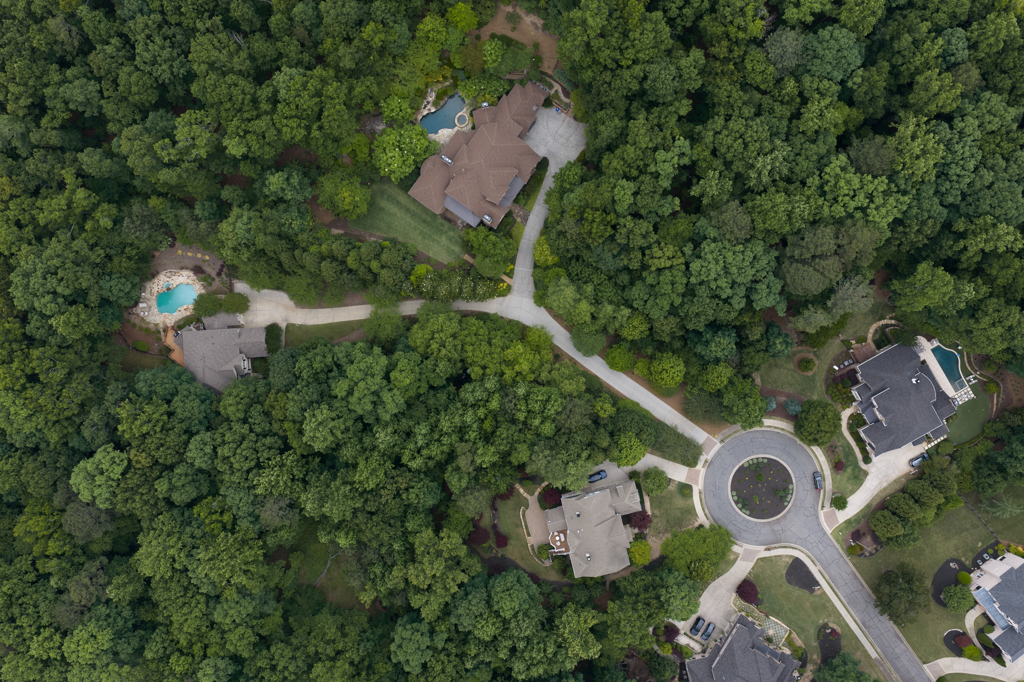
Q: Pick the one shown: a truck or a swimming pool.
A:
swimming pool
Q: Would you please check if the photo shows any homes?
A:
Yes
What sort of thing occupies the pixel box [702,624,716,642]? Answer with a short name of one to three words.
car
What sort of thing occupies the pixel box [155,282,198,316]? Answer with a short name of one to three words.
swimming pool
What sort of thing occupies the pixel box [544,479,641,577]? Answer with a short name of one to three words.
house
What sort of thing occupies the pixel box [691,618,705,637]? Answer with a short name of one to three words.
car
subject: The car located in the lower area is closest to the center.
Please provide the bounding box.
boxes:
[589,471,607,484]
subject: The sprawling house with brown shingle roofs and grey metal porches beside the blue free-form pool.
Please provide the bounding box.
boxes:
[408,80,550,228]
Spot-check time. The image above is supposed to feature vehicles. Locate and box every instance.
[911,453,928,469]
[589,471,607,484]
[702,624,716,642]
[691,618,705,637]
[814,473,825,491]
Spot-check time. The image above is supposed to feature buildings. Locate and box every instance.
[544,479,641,577]
[965,539,1024,664]
[848,341,960,458]
[160,307,271,396]
[685,607,802,682]
[408,80,550,228]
